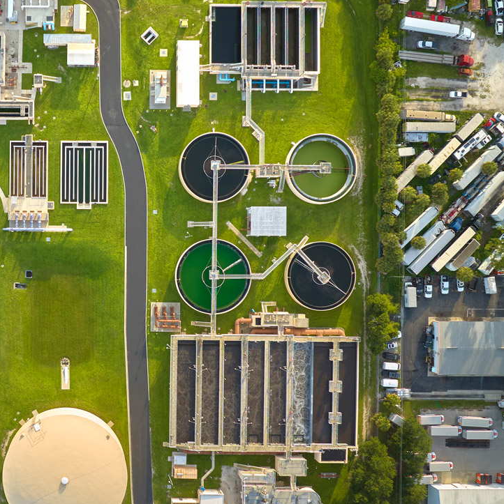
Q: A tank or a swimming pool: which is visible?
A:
tank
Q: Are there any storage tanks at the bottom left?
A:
Yes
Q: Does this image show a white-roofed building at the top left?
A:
Yes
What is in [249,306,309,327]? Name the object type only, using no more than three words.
building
